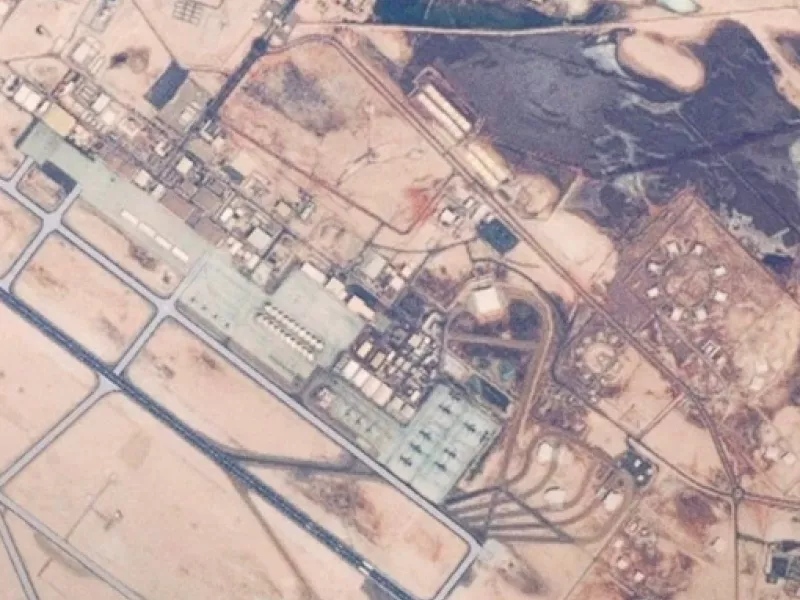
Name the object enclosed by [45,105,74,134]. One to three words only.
building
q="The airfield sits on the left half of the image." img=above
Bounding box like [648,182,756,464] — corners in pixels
[0,120,499,600]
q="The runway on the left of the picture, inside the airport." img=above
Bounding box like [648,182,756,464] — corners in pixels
[0,287,415,600]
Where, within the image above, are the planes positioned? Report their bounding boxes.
[439,405,449,415]
[401,456,411,466]
[464,422,474,432]
[410,443,420,453]
[434,462,445,472]
[446,448,456,459]
[420,430,430,441]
